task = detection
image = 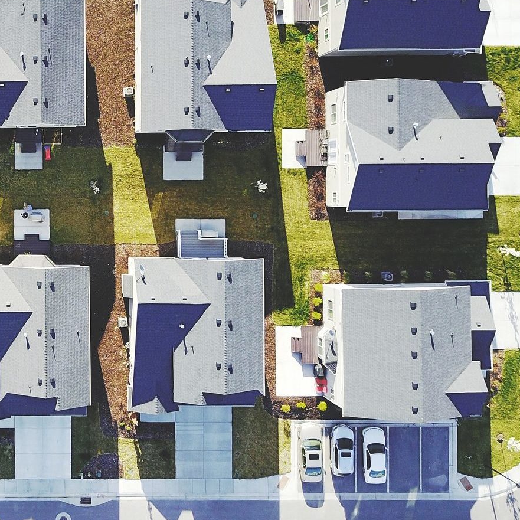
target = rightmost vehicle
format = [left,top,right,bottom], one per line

[360,425,389,485]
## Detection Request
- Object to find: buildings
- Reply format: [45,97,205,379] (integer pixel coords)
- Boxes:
[308,279,506,426]
[135,0,278,148]
[0,247,91,420]
[326,79,500,212]
[0,0,86,131]
[121,254,266,415]
[320,0,491,55]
